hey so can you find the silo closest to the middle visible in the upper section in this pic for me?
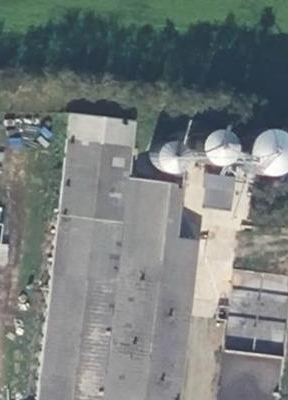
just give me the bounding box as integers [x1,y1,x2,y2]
[150,140,194,178]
